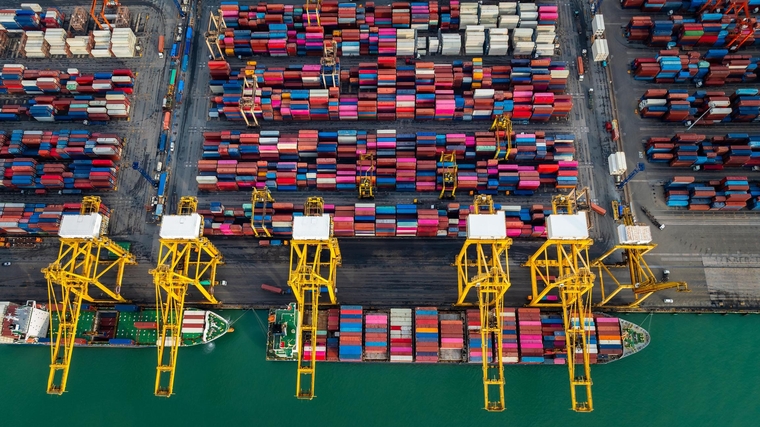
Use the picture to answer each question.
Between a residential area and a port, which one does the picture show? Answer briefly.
port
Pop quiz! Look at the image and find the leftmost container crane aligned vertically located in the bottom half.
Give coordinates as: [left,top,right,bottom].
[45,192,140,396]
